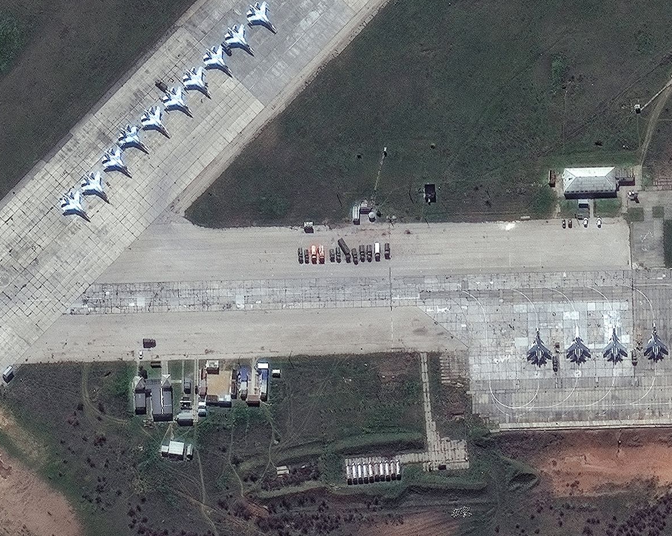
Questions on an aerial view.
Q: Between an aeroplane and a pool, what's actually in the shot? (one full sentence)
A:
The one in the frame is an aeroplane.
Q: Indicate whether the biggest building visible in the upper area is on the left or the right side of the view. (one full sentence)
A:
The biggest building visible in the upper area appears in the right half of the scene.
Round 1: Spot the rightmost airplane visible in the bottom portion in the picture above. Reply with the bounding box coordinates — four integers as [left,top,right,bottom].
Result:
[642,321,669,361]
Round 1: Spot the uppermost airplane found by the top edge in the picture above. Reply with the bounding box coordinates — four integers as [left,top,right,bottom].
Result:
[246,1,276,32]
